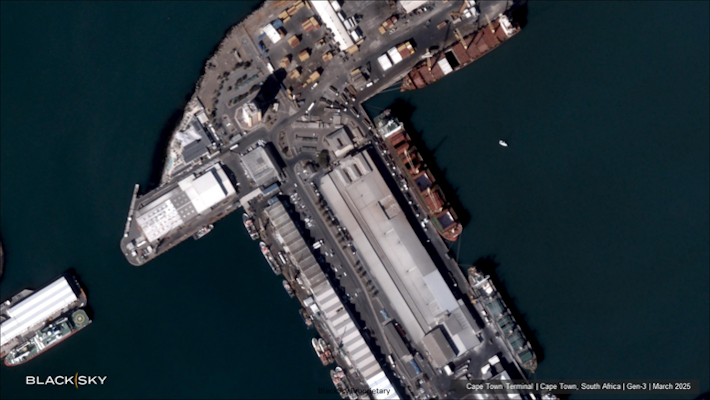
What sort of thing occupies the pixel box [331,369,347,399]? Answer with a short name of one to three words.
boat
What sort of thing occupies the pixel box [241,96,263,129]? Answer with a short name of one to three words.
building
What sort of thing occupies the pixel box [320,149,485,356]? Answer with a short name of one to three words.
shed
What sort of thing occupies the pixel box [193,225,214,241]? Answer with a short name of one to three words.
boat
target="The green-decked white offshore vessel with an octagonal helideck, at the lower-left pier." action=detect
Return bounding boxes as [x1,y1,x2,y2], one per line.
[5,308,92,365]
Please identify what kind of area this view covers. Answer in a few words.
port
